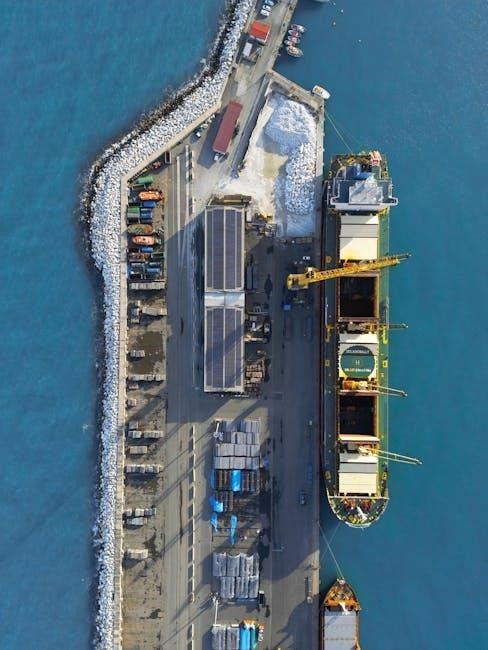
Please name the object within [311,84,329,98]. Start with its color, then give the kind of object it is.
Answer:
white boat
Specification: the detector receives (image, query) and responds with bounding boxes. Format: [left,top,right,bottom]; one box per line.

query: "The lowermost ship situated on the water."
[319,580,362,650]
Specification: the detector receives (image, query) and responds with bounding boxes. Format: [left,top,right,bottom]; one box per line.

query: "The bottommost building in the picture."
[204,206,245,392]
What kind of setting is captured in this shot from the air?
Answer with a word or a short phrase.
port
